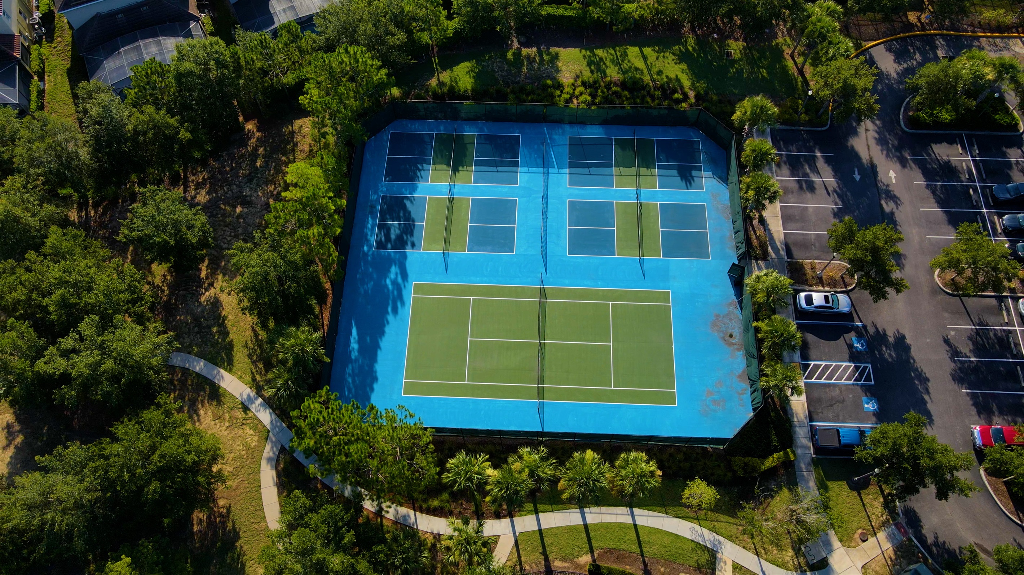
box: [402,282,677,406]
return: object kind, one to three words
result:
tennis court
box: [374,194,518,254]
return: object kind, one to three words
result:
sports court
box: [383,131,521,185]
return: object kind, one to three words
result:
sports court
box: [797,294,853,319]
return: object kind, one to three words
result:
car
